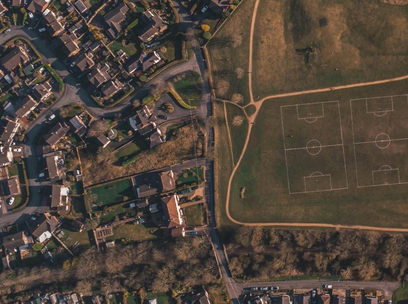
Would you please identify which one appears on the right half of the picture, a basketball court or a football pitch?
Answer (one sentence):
You can see a football pitch on the right half of the picture.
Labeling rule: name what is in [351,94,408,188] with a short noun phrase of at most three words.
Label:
soccer field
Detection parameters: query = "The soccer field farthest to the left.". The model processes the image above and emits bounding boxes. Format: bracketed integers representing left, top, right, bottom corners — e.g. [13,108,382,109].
[281,101,348,194]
